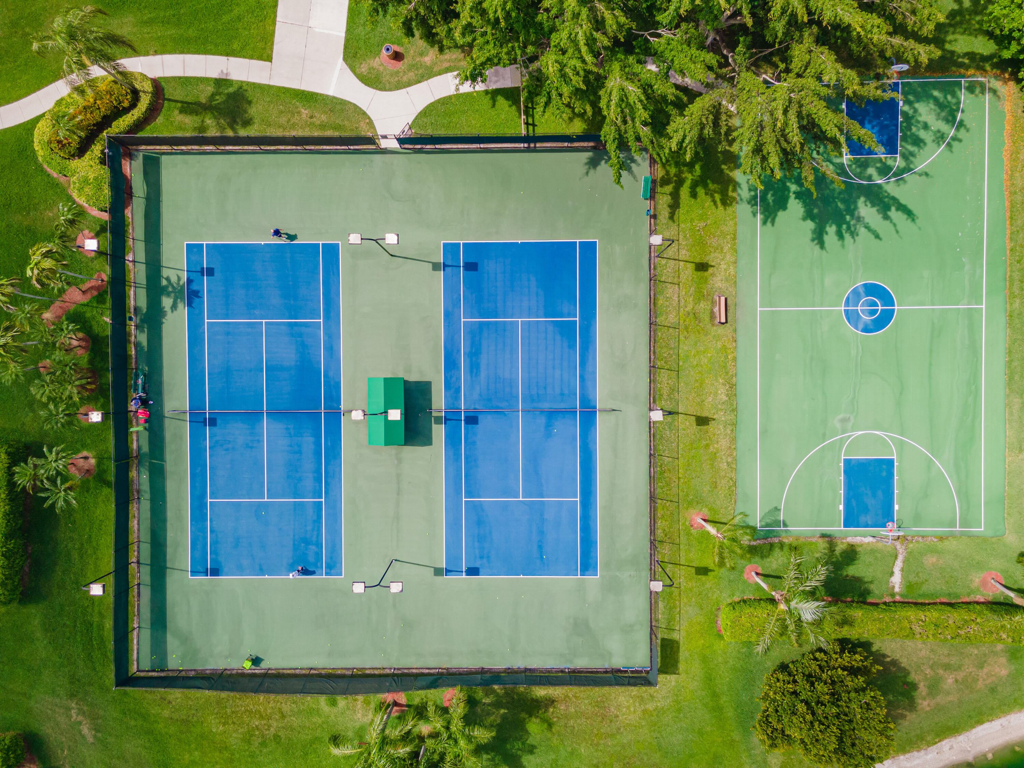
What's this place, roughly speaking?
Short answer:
sports ground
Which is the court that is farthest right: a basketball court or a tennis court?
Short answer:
basketball court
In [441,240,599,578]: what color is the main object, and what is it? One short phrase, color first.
blue tennis court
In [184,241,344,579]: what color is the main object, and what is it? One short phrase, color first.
blue tennis court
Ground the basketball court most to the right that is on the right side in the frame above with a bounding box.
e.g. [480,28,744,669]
[734,73,1006,539]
